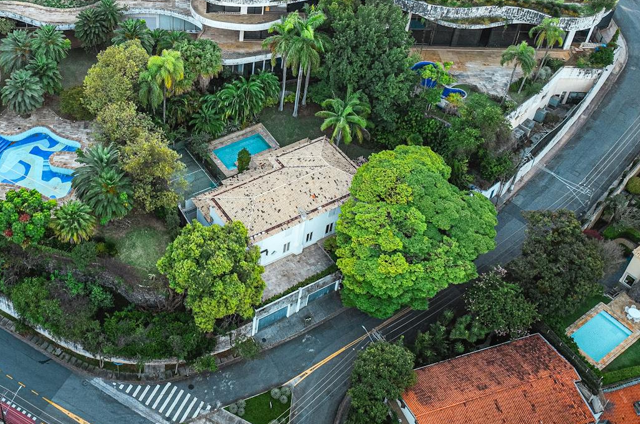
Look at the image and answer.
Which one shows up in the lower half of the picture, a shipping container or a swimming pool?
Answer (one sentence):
The one visible in the lower half of the picture is a swimming pool.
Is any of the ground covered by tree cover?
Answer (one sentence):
Yes, the picture does contain tree cover.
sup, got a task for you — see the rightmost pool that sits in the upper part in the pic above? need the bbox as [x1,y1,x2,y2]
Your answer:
[205,123,279,179]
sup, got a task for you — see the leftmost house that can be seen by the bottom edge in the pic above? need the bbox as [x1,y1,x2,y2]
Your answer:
[397,333,599,424]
